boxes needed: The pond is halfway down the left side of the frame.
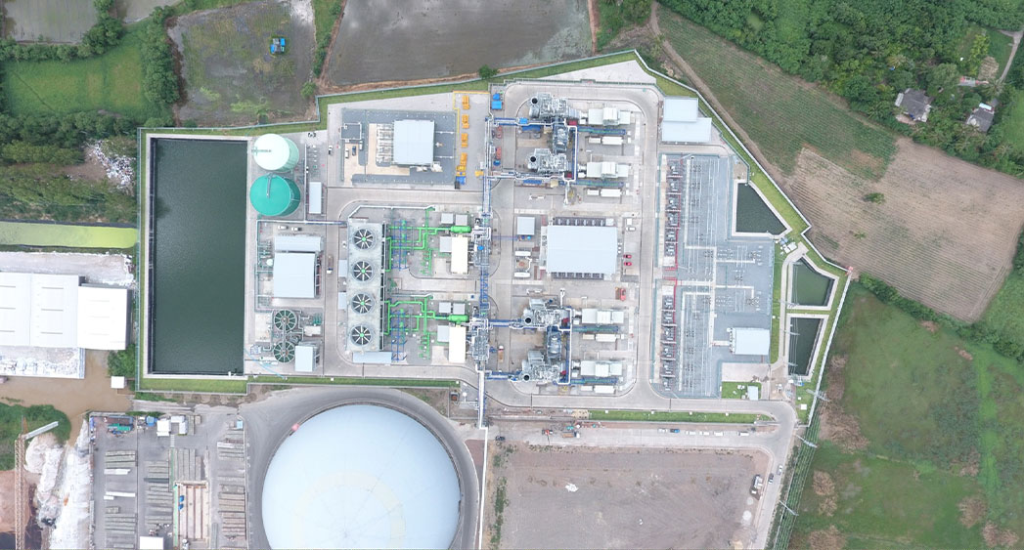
[0,222,136,249]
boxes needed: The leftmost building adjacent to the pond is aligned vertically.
[0,271,32,347]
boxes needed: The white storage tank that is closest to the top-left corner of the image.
[251,133,298,174]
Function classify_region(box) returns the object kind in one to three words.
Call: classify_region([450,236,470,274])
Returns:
house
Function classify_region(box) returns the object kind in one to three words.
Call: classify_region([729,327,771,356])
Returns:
building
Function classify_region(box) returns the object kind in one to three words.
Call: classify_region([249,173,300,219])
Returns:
storage tank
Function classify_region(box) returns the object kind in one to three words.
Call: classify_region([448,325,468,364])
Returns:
house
